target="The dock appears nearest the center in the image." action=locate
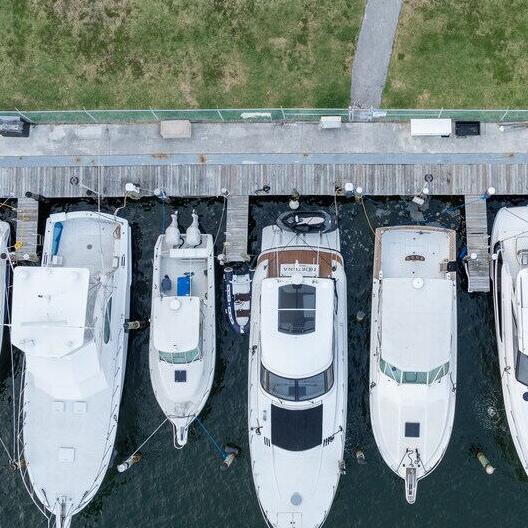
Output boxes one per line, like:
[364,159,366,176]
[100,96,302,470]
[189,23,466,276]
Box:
[225,196,252,262]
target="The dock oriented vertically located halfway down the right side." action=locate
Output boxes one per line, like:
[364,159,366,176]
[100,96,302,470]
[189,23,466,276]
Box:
[464,195,490,292]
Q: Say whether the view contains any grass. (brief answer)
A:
Yes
